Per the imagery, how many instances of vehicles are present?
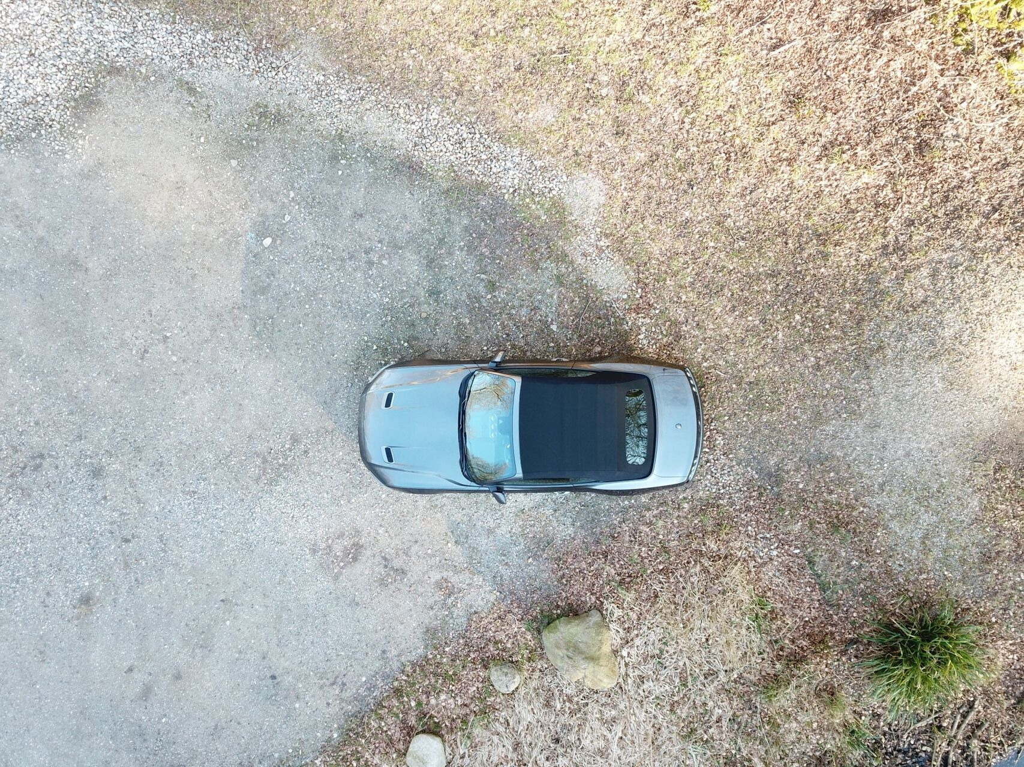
1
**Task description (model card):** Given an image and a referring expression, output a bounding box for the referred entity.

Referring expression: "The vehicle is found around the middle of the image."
[358,351,703,506]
